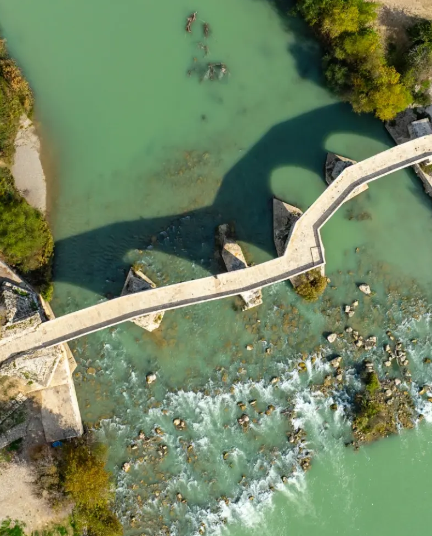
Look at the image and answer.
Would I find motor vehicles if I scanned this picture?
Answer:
No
